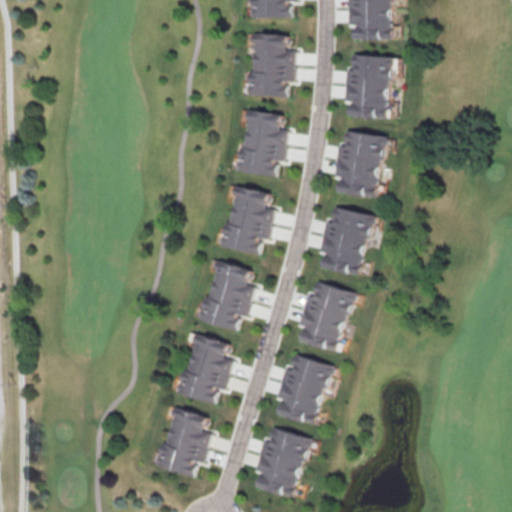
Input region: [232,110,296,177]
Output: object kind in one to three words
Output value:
house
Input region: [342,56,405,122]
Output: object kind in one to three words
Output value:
house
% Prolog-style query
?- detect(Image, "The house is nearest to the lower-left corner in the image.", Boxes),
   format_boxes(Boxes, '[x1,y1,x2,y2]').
[154,408,222,478]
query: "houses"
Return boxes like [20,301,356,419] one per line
[216,186,283,254]
[232,110,296,177]
[174,333,240,405]
[297,282,367,354]
[195,260,262,330]
[276,356,342,426]
[332,131,398,200]
[243,34,304,98]
[154,408,222,478]
[346,0,408,41]
[248,0,304,20]
[254,430,323,500]
[318,207,386,277]
[342,56,405,122]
